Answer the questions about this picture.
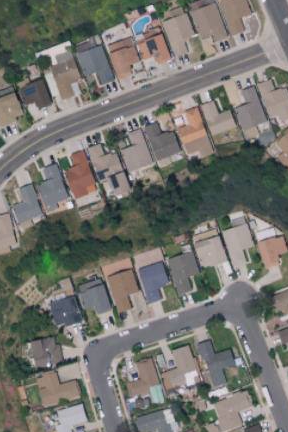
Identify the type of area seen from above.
residential area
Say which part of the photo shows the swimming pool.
top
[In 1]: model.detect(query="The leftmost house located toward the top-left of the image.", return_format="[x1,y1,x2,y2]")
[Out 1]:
[0,86,22,126]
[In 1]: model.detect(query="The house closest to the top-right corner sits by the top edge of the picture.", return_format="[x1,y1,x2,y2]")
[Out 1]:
[221,0,250,35]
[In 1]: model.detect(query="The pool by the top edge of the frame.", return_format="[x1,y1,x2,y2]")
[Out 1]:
[132,16,152,36]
